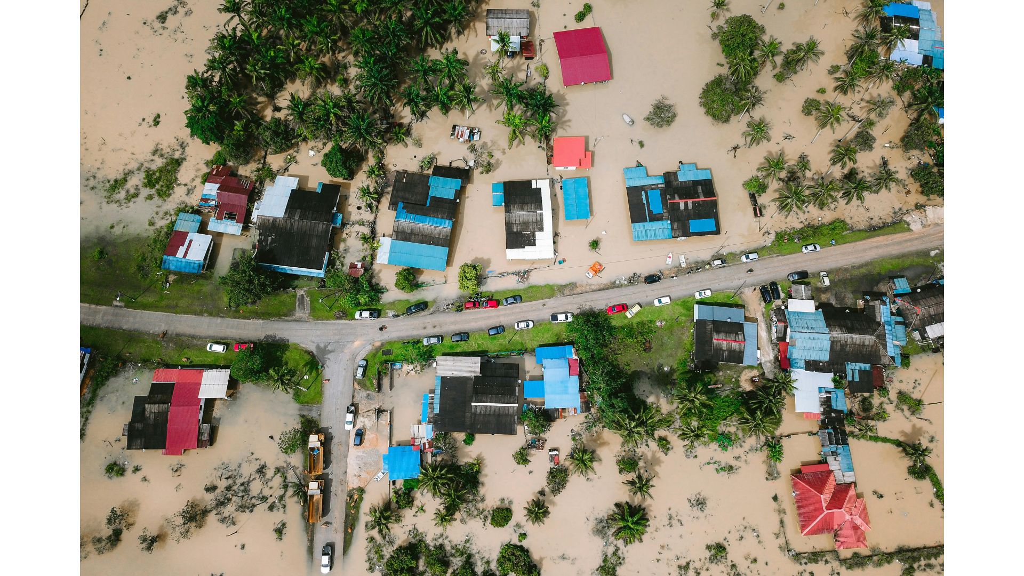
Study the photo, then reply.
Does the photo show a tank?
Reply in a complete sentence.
No, this view has no tank in it.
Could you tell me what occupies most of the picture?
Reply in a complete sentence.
What you mostly see from above here is water.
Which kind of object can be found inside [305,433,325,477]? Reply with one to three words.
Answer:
vehicle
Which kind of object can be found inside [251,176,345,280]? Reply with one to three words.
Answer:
house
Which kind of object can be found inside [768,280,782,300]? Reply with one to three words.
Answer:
car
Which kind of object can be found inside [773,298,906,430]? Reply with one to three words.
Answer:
house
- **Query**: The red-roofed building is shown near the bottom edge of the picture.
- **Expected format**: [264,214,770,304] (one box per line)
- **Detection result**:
[786,463,871,550]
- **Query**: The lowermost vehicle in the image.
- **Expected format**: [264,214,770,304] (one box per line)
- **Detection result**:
[320,543,333,572]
